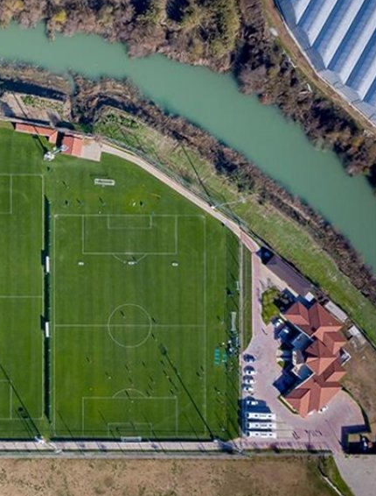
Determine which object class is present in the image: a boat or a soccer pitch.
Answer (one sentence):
There is a soccer pitch in the scene.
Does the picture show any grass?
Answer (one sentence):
Yes, there is grass in the image.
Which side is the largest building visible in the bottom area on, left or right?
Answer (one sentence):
The largest building visible in the bottom area is on the right side of the image.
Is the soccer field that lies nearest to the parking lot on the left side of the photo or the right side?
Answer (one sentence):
It is on the left.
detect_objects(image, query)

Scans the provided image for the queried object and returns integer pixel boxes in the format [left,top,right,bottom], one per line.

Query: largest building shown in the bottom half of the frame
[277,299,351,413]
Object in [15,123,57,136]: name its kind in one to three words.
shed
